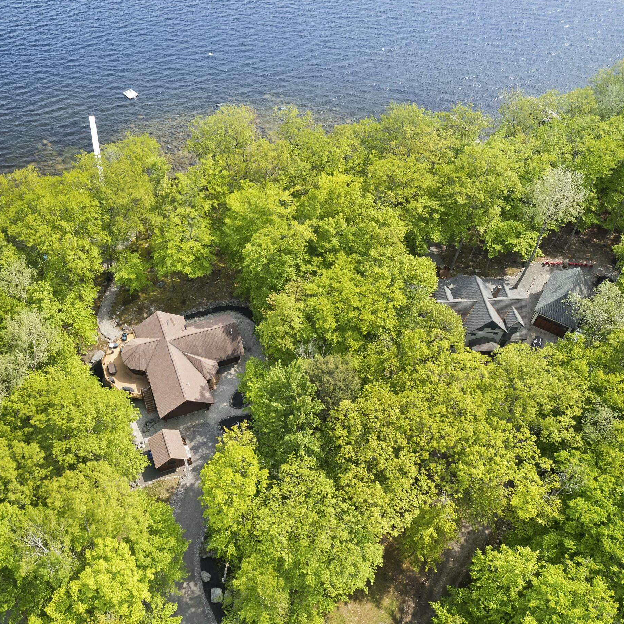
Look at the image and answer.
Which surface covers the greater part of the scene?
trees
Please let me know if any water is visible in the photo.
Yes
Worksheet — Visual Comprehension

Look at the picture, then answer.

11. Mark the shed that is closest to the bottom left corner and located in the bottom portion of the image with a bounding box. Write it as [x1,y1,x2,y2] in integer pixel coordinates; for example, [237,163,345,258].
[147,429,192,475]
